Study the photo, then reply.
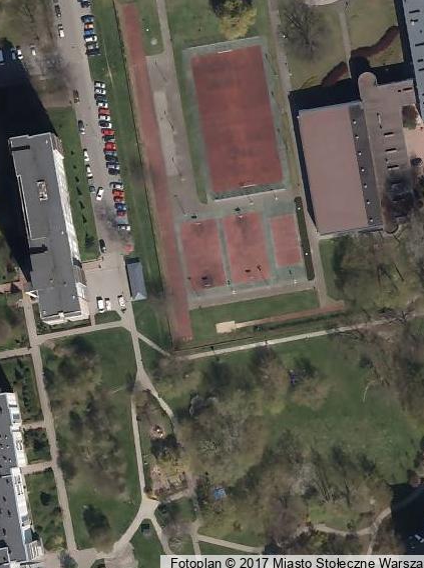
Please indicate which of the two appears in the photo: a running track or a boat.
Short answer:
running track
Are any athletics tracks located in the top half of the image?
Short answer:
Yes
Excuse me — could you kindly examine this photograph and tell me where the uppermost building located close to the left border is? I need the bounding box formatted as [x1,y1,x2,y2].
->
[0,132,89,327]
